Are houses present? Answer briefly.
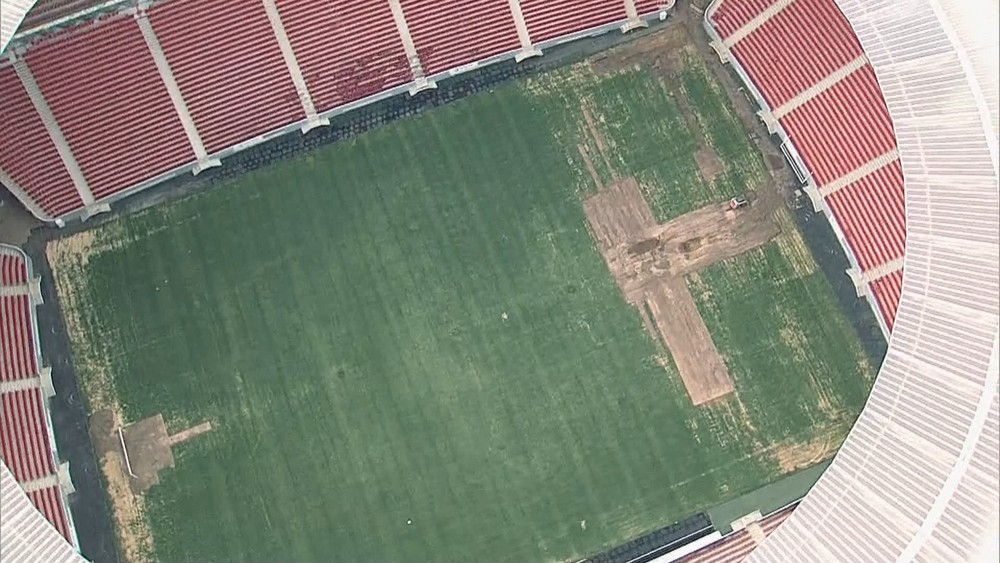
No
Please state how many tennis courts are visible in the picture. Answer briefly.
0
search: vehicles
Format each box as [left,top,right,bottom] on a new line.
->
[729,192,753,210]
